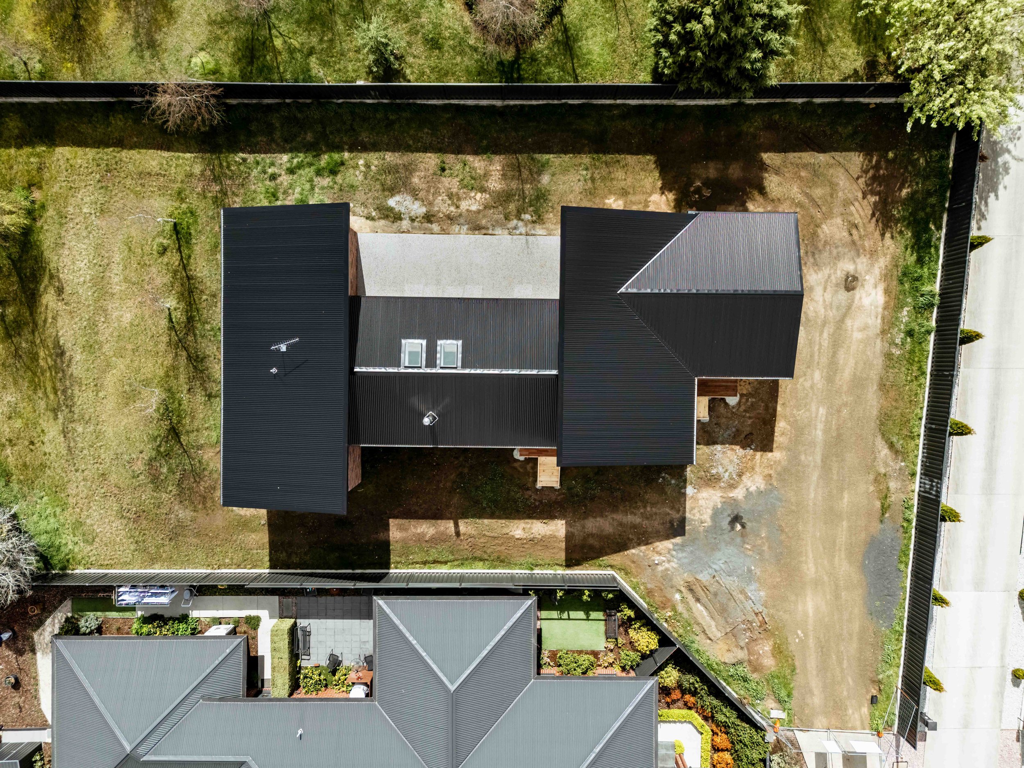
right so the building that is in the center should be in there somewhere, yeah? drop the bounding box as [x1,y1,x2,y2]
[220,202,804,515]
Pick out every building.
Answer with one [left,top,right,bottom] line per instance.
[0,741,43,768]
[220,202,804,515]
[48,590,660,768]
